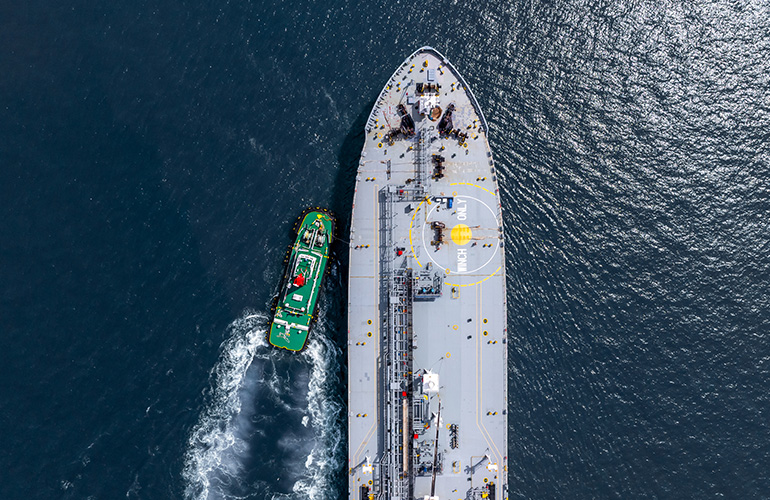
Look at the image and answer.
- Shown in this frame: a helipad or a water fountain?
helipad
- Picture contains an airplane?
No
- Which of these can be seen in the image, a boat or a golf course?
boat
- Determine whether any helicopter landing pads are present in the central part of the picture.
Yes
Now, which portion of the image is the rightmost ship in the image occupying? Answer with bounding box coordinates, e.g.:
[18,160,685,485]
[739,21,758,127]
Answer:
[347,46,508,500]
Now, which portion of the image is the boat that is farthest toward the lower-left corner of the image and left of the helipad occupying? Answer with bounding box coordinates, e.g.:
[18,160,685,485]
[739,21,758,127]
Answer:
[267,205,338,353]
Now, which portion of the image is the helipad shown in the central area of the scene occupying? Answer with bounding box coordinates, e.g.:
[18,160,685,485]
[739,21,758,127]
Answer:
[410,183,502,286]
